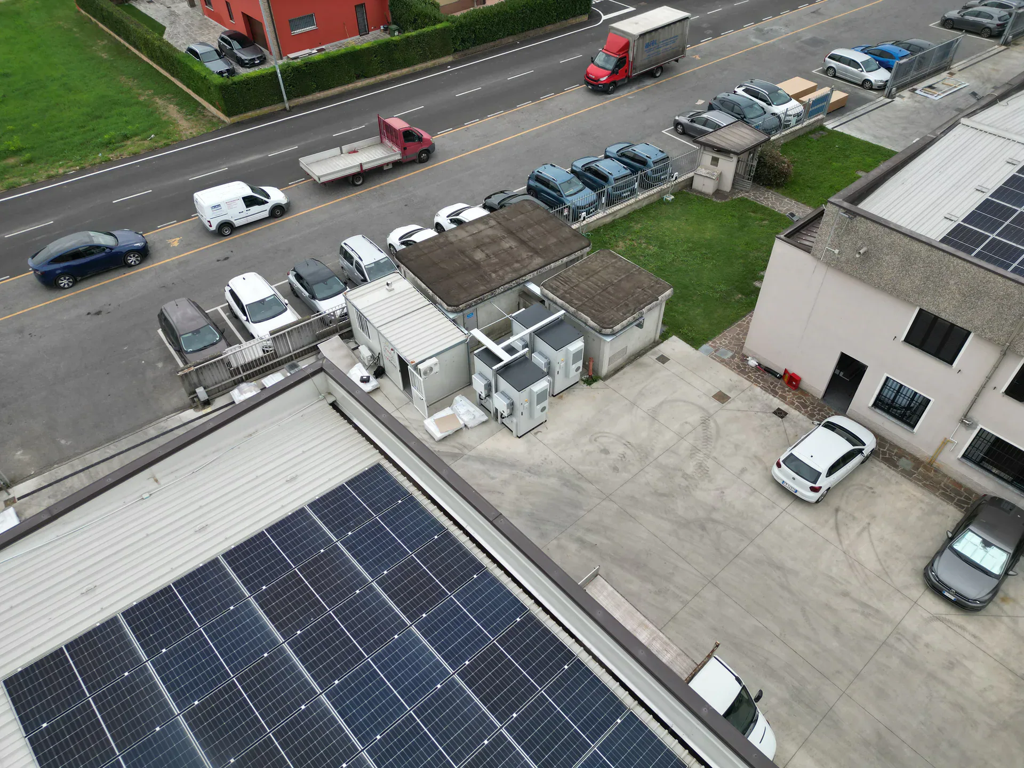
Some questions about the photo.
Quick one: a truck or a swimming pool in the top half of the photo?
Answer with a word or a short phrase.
truck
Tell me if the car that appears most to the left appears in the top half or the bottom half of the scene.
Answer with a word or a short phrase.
top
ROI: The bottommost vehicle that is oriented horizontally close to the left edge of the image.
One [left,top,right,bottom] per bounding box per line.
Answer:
[24,230,145,291]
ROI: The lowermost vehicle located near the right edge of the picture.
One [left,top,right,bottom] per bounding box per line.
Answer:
[921,486,1024,610]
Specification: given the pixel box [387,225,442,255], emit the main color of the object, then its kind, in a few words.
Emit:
white car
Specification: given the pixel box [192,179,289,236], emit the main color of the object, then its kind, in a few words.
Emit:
white van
